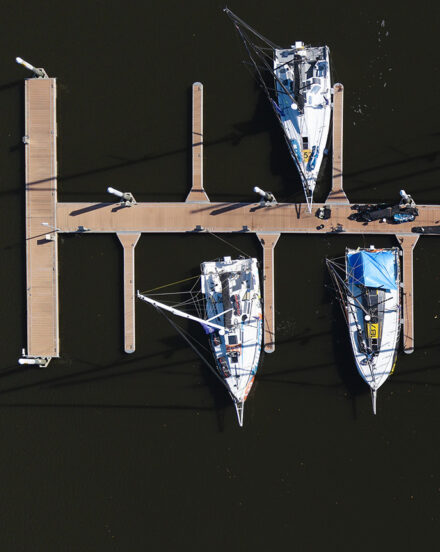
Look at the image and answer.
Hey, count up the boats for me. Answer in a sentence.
There are 3 boats in the image.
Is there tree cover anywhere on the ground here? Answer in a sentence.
No, tree cover can't be seen anywhere here.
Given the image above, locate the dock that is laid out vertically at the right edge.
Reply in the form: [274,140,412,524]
[395,234,419,353]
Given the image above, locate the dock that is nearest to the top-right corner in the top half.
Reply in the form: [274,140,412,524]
[326,86,350,204]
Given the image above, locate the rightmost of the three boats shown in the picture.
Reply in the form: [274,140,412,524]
[326,243,400,414]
